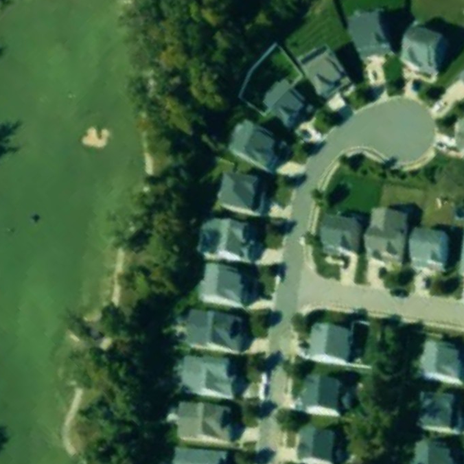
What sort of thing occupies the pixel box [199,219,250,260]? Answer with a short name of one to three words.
house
